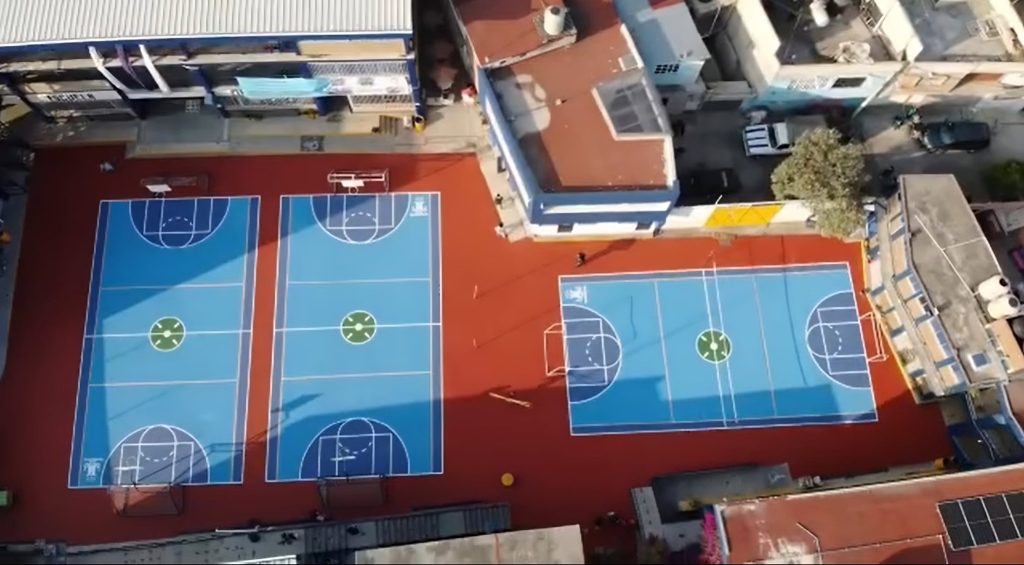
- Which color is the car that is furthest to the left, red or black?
black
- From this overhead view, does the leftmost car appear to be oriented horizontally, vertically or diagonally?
horizontally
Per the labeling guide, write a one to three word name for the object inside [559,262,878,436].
sports court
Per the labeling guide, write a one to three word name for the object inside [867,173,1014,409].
building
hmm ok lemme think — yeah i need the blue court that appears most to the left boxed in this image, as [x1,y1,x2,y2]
[66,196,261,488]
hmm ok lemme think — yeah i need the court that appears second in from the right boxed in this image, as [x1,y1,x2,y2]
[266,191,444,481]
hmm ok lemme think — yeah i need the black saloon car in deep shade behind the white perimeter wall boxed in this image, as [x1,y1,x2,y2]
[679,170,751,203]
